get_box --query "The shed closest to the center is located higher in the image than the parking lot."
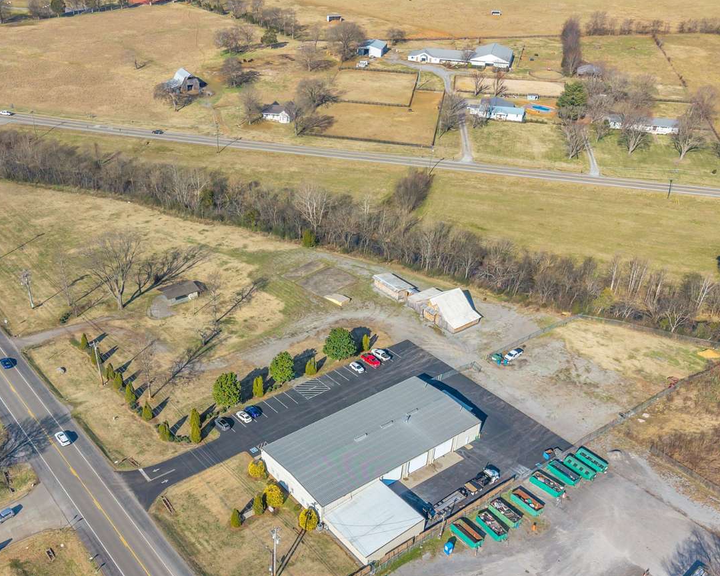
[372,274,419,302]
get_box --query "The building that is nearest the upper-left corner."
[160,65,210,92]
